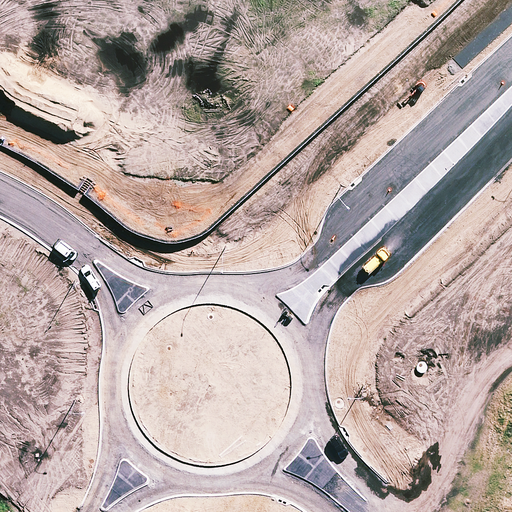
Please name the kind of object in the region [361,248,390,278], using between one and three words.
truck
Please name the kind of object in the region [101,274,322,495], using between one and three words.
roundabout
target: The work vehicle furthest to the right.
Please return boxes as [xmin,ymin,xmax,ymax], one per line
[396,80,430,109]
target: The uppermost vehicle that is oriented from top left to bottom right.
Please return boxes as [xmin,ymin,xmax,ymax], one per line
[53,241,78,263]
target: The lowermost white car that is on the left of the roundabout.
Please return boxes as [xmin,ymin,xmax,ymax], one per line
[81,265,100,293]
